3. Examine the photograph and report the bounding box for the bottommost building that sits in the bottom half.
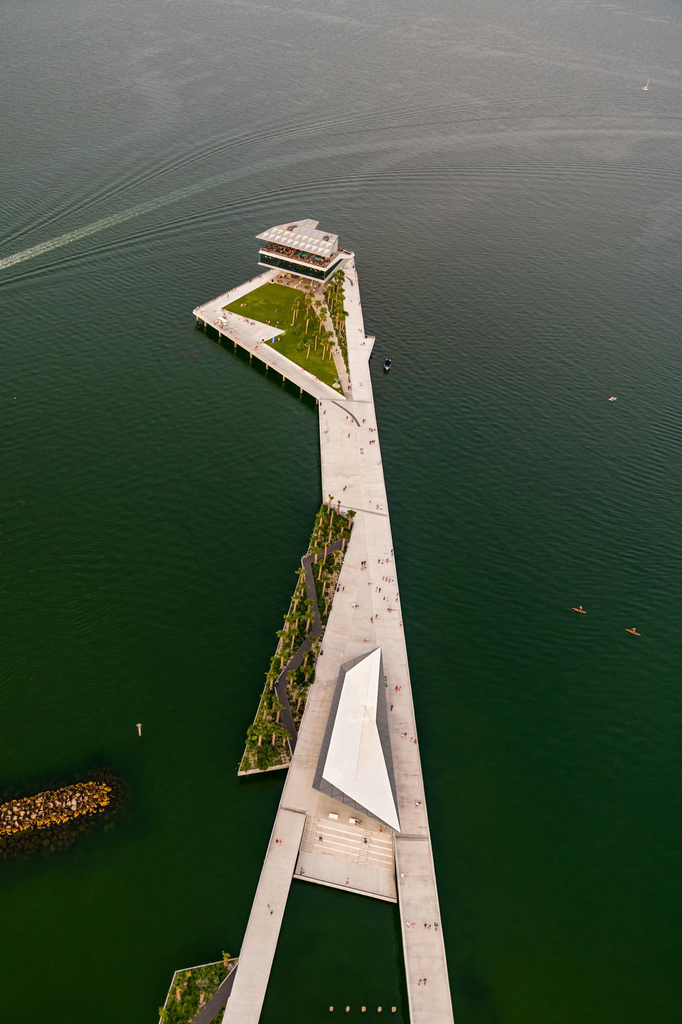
[311,646,401,834]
